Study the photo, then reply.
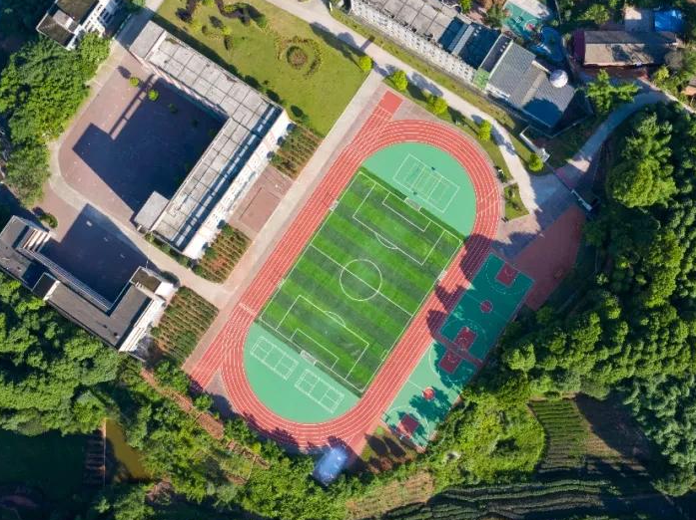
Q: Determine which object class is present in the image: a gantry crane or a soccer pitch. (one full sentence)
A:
There is a soccer pitch in the scene.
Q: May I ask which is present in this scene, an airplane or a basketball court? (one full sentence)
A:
The image shows a basketball court.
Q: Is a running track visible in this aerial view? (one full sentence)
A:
Yes, there's a running track down there.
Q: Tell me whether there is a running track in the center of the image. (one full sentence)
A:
Yes, a running track can be seen in the center of the image.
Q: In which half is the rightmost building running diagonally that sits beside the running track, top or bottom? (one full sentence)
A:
You can find the rightmost building running diagonally that sits beside the running track in the top half.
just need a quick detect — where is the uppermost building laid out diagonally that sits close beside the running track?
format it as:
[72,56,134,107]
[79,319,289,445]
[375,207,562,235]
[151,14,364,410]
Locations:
[351,0,575,133]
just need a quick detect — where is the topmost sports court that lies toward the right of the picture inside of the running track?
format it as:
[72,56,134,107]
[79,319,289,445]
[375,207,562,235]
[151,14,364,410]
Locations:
[391,152,461,214]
